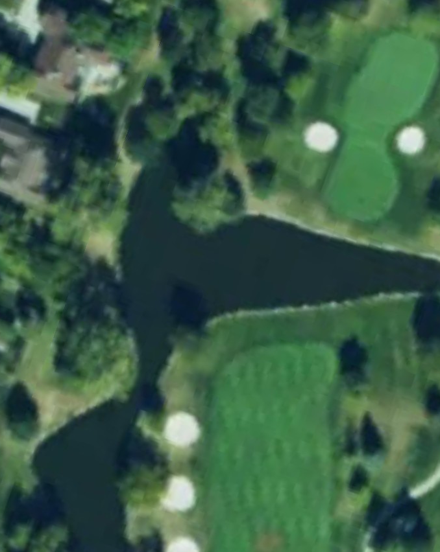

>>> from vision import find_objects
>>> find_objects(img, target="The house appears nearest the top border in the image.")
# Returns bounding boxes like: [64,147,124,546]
[29,9,112,100]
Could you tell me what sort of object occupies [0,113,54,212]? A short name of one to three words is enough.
house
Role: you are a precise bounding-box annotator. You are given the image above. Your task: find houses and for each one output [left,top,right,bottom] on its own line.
[29,9,112,100]
[0,113,54,212]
